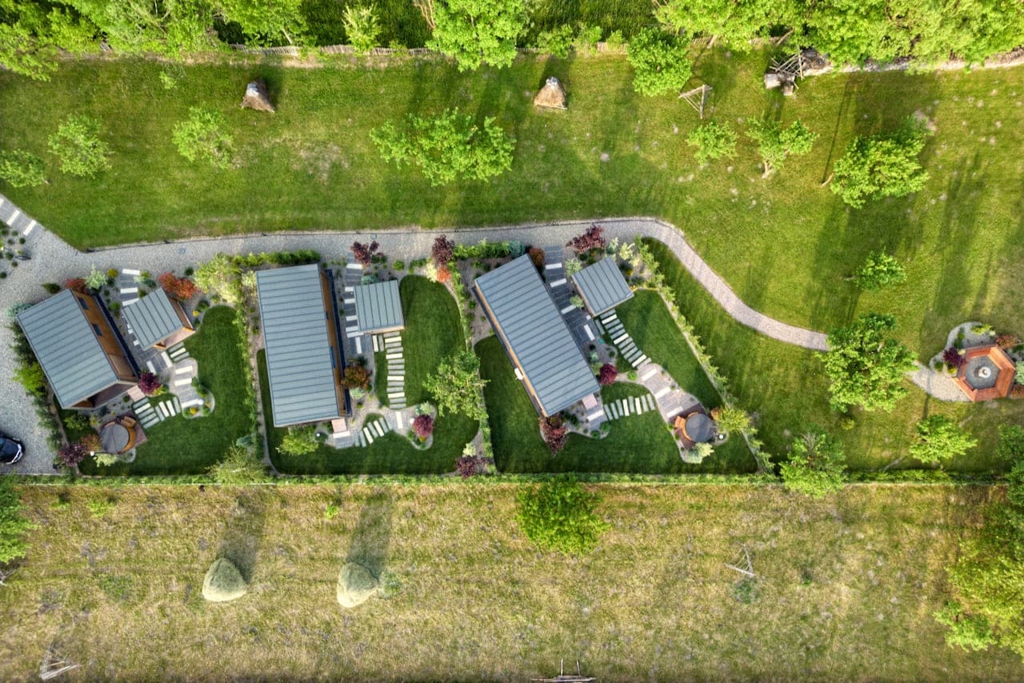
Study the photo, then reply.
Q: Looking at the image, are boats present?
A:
No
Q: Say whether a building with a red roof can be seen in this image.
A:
No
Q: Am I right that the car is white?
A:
No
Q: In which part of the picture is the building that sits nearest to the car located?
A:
left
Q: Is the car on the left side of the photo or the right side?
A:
left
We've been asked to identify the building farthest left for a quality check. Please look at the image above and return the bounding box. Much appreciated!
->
[16,286,146,409]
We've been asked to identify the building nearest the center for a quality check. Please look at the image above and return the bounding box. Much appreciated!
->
[473,253,600,417]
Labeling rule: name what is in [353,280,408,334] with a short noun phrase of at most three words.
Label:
shed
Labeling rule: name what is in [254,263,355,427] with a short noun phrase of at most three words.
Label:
building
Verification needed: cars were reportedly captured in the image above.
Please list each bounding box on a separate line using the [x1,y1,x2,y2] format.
[0,433,25,466]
